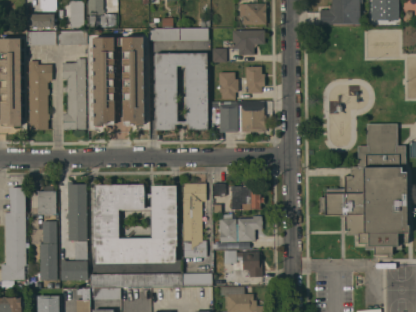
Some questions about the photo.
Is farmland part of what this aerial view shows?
No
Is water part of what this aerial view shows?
No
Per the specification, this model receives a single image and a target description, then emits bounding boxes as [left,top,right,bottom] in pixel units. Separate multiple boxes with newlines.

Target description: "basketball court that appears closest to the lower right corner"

[384,259,416,312]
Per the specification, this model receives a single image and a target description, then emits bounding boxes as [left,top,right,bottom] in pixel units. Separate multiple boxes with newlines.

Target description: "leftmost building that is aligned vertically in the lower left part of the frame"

[5,187,26,282]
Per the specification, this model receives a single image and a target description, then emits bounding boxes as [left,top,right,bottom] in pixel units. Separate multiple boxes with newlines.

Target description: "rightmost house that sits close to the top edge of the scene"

[374,0,401,26]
